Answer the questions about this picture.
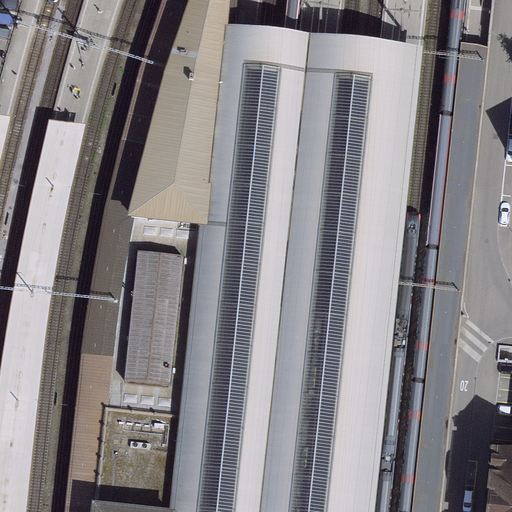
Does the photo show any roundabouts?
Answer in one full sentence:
No, this view has no roundabout in it.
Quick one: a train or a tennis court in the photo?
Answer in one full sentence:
The image shows a train.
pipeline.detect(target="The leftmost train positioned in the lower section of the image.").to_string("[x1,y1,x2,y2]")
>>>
[377,210,421,512]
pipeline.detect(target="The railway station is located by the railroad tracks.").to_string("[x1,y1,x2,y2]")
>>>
[170,24,424,512]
